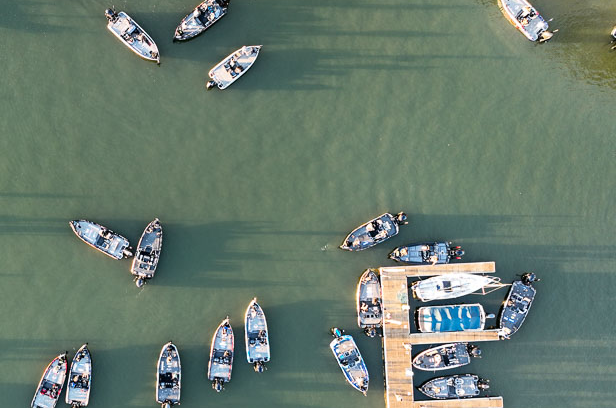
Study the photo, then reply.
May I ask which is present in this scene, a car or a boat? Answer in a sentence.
There is a boat in the scene.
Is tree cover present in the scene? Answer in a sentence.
No, no tree cover is visible.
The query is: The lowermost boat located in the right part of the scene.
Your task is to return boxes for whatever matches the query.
[416,372,488,399]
